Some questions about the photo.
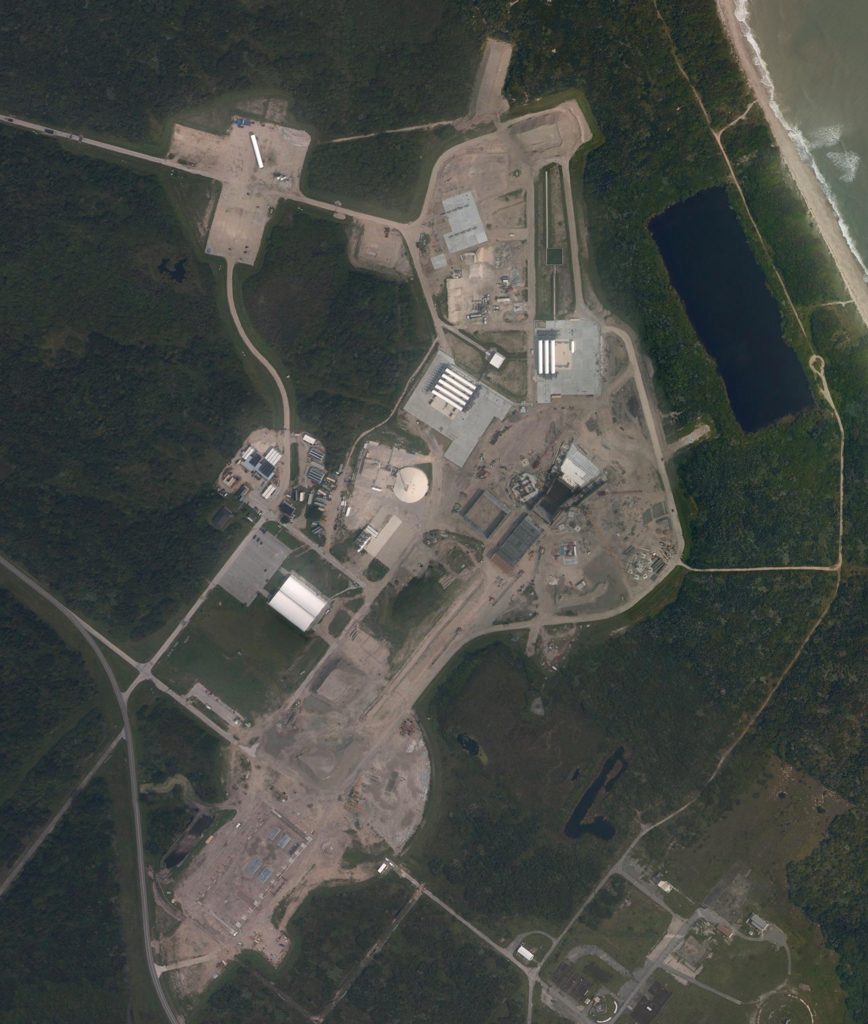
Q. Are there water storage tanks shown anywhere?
Yes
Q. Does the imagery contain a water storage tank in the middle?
Yes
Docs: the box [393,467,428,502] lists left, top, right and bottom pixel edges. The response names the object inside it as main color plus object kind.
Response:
white water tank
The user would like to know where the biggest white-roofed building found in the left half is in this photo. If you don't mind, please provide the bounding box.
[269,575,327,632]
